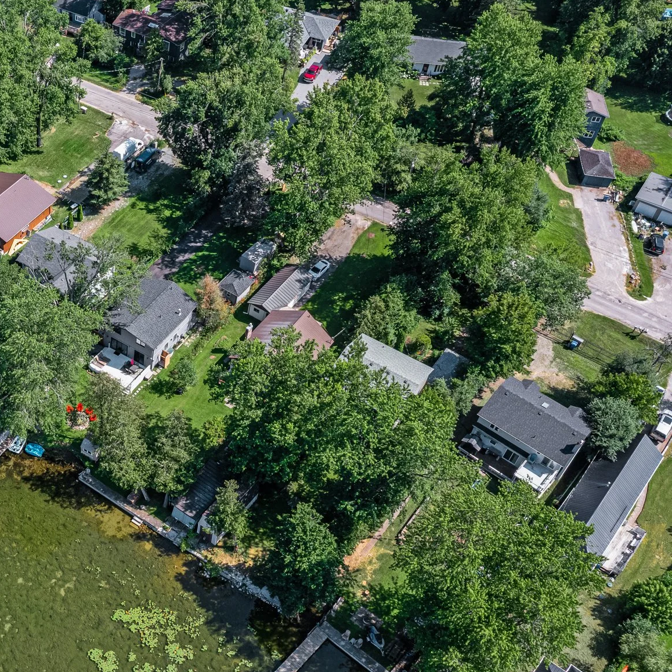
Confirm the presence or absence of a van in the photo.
Yes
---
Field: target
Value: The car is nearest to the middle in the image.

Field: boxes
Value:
[308,260,332,284]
